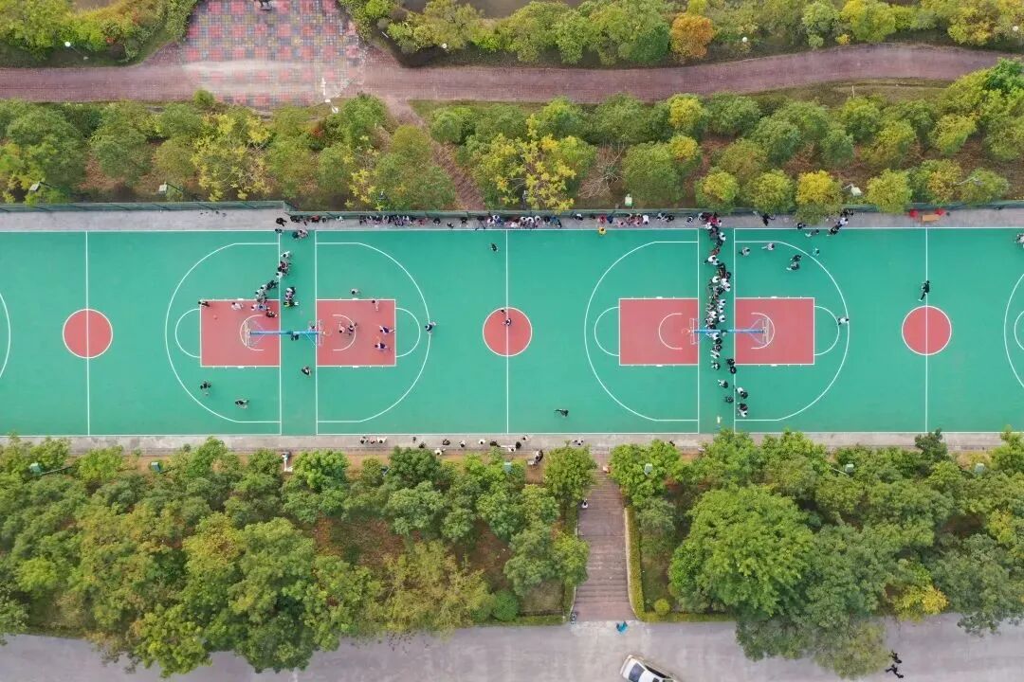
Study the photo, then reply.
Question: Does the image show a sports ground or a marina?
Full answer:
It's a sports ground.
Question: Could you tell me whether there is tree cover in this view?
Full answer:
Yes, tree cover shows up in the scene.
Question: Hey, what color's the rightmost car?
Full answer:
In this view, the rightmost car is white.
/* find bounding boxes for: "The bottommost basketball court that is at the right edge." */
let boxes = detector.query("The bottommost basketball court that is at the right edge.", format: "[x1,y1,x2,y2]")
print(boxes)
[717,227,1024,434]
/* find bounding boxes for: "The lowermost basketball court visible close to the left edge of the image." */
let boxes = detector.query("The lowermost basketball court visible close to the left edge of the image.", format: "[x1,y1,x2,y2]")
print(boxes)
[0,230,299,437]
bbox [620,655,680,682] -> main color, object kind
white car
